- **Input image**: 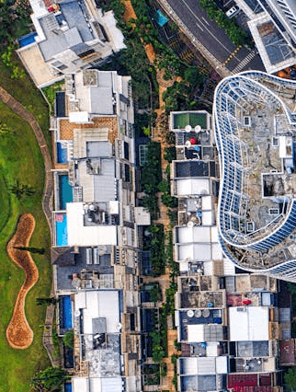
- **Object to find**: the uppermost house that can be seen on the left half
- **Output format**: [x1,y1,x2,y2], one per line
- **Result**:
[15,0,128,92]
